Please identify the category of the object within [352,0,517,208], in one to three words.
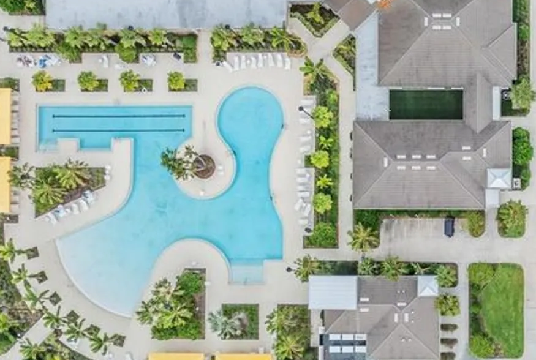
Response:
building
